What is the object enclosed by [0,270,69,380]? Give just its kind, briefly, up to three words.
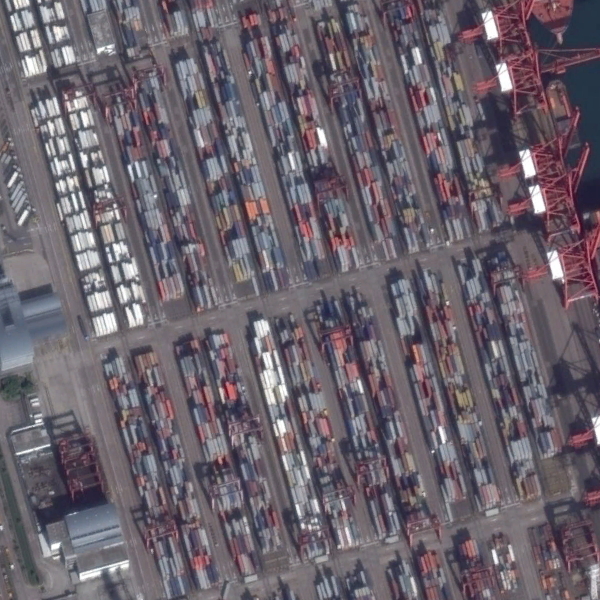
building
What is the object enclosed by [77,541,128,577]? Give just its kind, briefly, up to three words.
shed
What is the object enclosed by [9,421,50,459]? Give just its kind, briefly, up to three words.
building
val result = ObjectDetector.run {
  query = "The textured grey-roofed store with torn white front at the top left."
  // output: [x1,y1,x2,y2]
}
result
[87,11,116,56]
